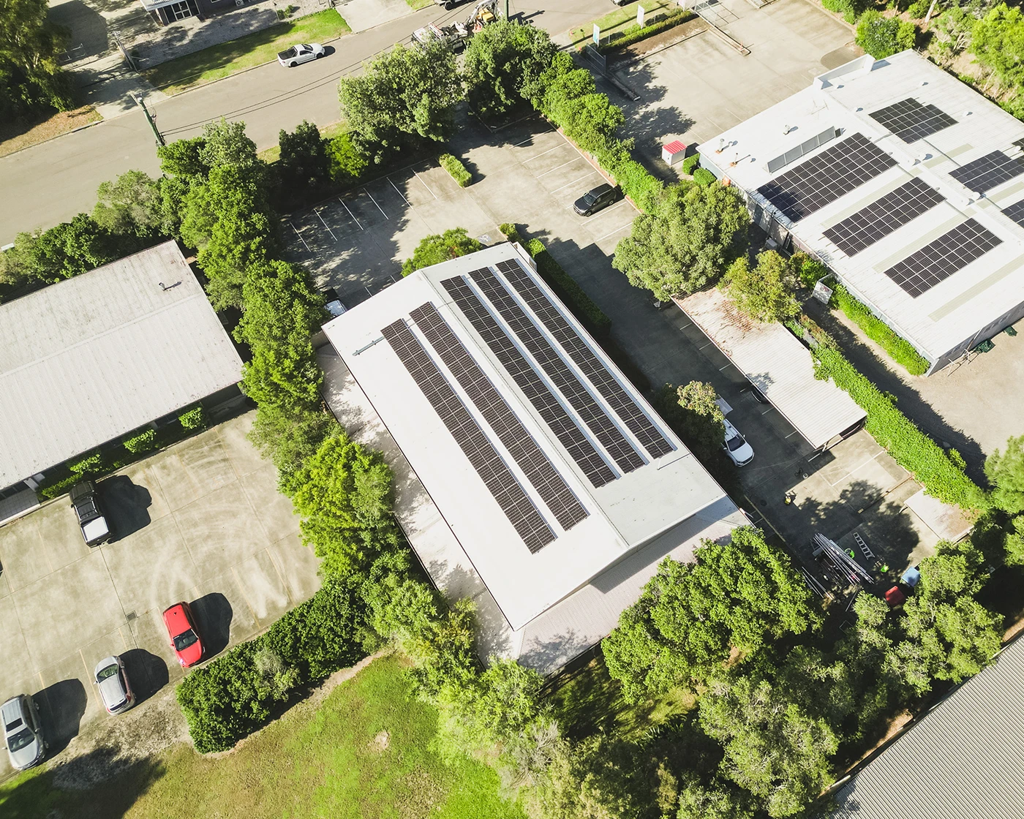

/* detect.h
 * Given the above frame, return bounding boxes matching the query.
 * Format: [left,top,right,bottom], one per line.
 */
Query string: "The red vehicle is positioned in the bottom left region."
[154,601,206,669]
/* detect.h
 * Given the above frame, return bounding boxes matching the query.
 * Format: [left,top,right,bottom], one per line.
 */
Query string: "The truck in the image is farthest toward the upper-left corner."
[278,43,326,67]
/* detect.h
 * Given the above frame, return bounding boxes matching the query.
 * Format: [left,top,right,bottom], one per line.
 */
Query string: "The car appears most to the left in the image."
[0,691,46,773]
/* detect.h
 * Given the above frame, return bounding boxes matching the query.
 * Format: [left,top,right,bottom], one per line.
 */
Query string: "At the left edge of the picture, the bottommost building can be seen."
[0,239,250,501]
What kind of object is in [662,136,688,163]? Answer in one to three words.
shed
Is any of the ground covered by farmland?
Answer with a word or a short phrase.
No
